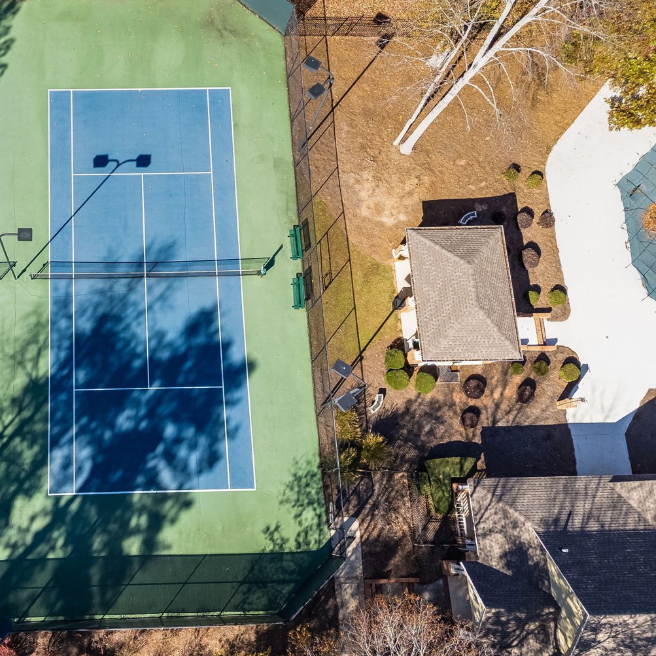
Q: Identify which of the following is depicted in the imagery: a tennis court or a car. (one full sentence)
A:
Of the two, only a tennis court appears.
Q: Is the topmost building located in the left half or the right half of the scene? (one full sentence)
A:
The topmost building is on the right side of the image.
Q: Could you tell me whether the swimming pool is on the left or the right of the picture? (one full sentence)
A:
It is on the right.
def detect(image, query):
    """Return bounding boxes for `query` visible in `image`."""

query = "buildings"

[390,224,526,369]
[419,473,656,656]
